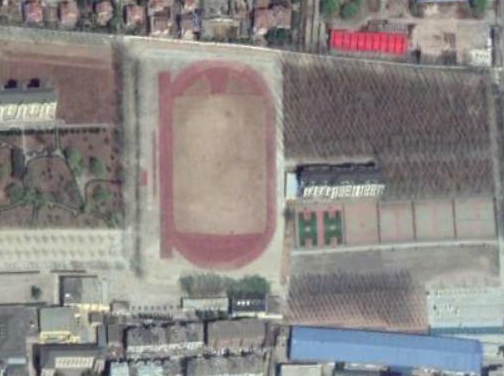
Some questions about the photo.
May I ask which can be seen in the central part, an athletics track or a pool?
athletics track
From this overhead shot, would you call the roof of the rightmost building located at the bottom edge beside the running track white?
No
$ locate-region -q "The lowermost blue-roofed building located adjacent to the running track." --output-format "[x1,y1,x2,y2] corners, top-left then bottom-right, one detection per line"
[287,325,483,374]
